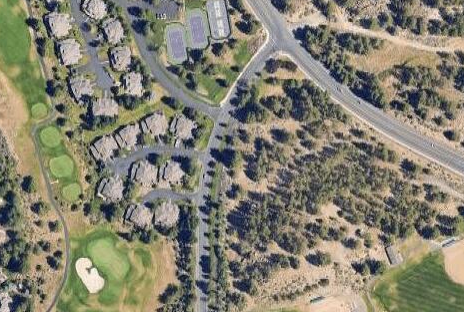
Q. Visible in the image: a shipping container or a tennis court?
tennis court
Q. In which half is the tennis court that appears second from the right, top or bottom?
top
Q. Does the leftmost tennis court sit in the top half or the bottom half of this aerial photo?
top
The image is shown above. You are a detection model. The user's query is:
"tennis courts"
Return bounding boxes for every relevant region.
[205,0,232,41]
[165,22,190,66]
[186,7,211,50]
